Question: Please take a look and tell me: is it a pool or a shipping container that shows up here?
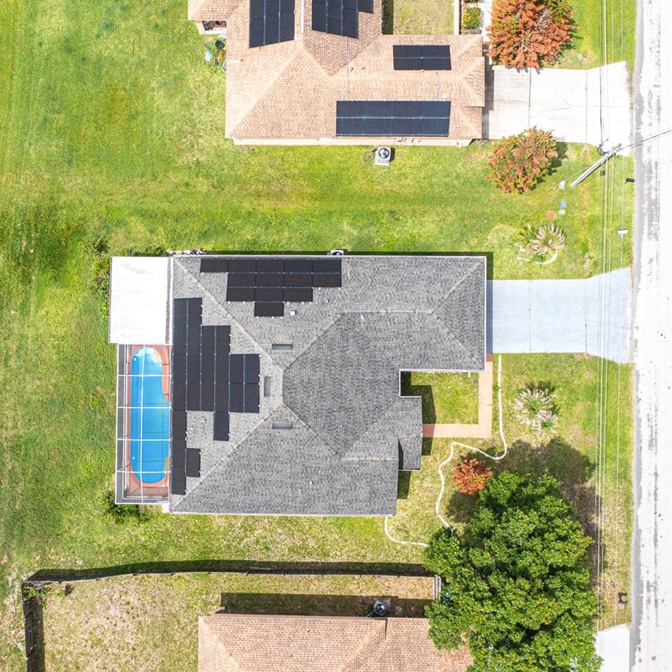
pool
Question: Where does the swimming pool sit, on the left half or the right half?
left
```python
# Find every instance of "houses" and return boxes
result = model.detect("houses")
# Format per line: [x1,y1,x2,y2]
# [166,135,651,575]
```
[197,603,484,672]
[188,0,485,147]
[108,255,488,517]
